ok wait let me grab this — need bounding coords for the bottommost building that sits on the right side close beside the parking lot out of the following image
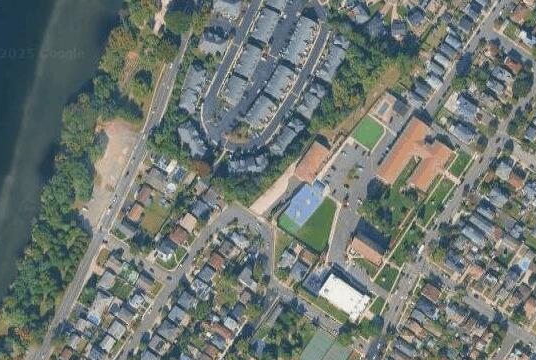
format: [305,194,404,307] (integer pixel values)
[318,273,370,323]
